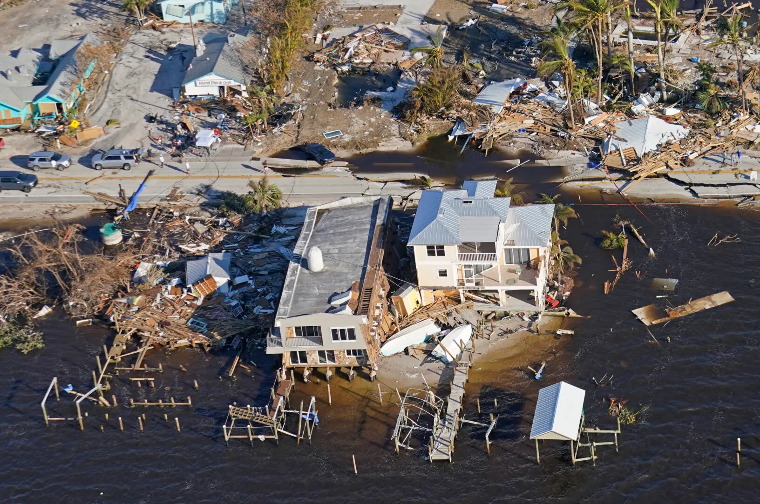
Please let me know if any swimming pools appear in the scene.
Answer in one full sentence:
Yes, looking at the shot, I can spot a swimming pool.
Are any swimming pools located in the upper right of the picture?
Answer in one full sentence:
Yes, in the upper right of the picture there is a swimming pool.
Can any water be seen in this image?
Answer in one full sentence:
Yes, water can be seen from above here.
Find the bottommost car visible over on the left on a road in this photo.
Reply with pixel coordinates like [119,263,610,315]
[0,169,41,192]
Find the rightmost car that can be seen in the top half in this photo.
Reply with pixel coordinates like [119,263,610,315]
[298,136,338,163]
